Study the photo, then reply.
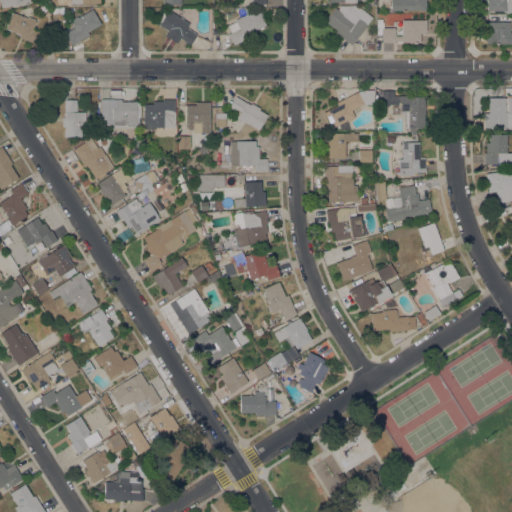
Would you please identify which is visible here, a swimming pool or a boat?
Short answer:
swimming pool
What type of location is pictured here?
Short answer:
residential area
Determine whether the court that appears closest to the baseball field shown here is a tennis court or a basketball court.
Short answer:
tennis court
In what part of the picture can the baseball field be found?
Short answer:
bottom right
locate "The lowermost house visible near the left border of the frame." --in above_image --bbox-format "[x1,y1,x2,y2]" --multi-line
[9,481,47,512]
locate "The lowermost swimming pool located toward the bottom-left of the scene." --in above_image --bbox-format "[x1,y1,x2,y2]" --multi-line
[94,375,114,390]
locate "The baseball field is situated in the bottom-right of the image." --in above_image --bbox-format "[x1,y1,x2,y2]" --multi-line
[393,458,470,512]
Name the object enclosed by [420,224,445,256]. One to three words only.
house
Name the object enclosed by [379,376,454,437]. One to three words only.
tennis court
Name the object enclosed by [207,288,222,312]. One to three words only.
swimming pool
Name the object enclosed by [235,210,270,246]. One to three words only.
house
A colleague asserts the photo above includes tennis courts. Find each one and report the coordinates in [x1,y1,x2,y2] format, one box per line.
[379,376,454,437]
[394,398,472,462]
[440,337,512,398]
[454,362,512,425]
